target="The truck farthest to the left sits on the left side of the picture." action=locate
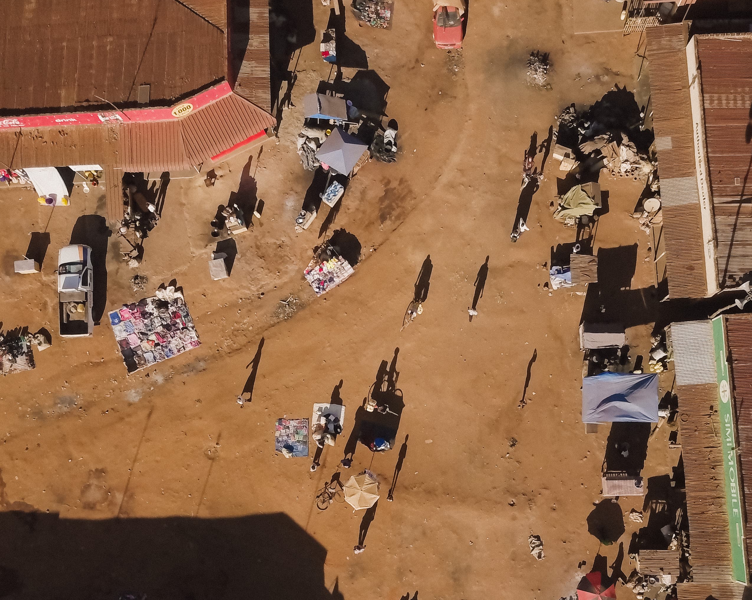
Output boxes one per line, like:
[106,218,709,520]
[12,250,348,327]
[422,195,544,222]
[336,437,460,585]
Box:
[53,246,94,340]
